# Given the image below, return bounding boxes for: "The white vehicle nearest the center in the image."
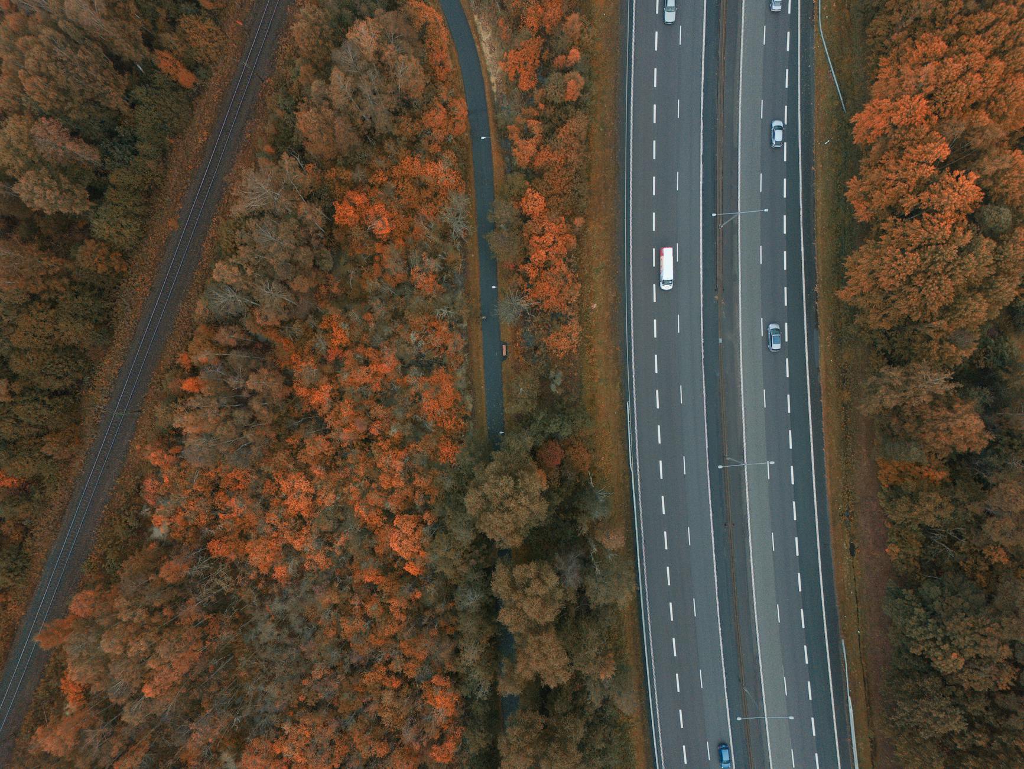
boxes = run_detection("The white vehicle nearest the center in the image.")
[659,245,675,289]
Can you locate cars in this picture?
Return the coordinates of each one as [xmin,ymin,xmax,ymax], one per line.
[768,324,782,352]
[770,0,782,12]
[663,0,676,24]
[771,120,785,148]
[719,744,733,769]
